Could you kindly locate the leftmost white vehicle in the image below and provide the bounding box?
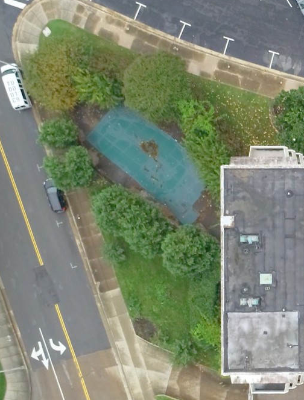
[0,64,31,112]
